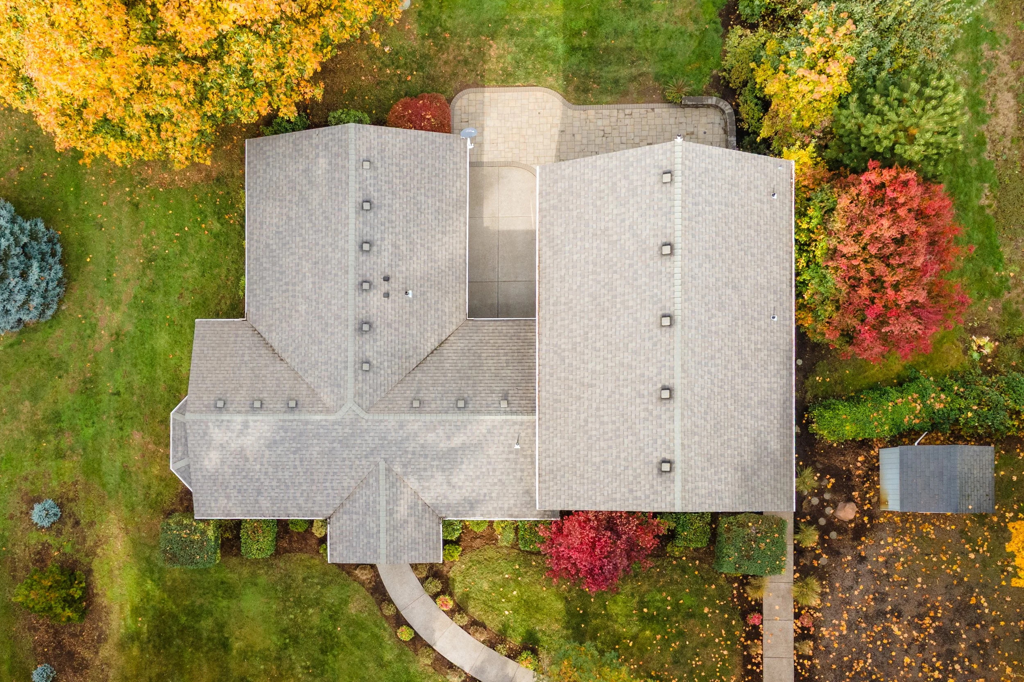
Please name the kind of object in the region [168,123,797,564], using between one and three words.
house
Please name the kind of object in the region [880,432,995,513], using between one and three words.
shed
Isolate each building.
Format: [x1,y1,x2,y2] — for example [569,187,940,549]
[168,123,797,564]
[880,432,995,513]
